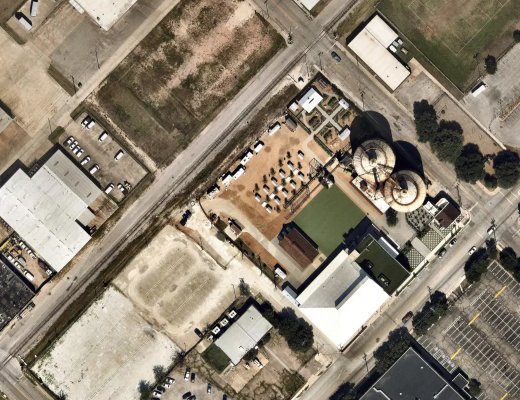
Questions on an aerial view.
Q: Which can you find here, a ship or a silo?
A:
silo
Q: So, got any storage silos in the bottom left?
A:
No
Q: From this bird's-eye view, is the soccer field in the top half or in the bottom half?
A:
top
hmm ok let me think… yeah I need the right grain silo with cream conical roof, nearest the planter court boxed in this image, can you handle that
[385,170,428,212]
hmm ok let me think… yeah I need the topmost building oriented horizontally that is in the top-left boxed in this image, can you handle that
[70,0,134,31]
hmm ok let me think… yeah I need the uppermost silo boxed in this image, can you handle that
[354,139,397,181]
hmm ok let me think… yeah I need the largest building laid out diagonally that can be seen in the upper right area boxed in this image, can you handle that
[348,26,411,90]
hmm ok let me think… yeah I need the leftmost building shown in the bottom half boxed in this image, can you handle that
[0,257,36,324]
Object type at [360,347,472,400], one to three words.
building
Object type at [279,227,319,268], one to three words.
barn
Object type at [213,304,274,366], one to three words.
building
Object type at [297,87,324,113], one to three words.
house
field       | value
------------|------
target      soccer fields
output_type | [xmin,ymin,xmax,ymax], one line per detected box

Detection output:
[377,0,520,94]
